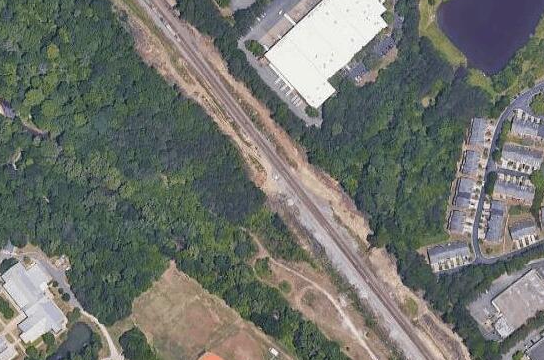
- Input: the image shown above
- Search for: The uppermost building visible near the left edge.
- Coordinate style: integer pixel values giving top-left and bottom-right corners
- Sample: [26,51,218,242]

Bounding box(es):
[0,262,52,312]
